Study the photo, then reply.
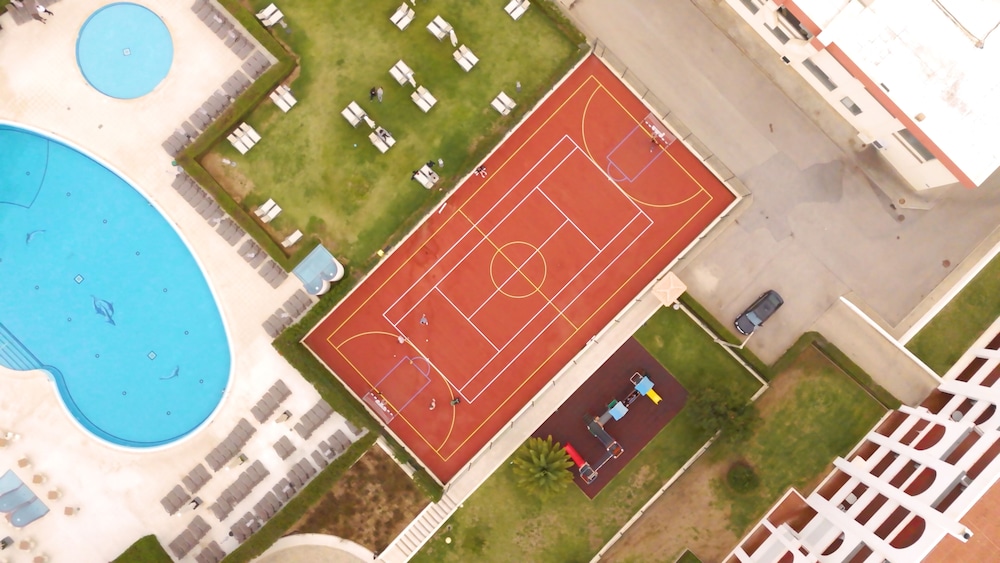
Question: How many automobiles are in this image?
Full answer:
Only 1 automobile is visible.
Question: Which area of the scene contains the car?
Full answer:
The car is in the right part of the image.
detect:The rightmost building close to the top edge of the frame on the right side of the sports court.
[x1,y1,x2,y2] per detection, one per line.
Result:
[728,0,1000,191]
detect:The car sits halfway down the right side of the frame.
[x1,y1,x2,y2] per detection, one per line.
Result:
[734,288,784,335]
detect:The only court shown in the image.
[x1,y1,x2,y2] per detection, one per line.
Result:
[303,54,736,484]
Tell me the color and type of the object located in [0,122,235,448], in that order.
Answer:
blue swimming pool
